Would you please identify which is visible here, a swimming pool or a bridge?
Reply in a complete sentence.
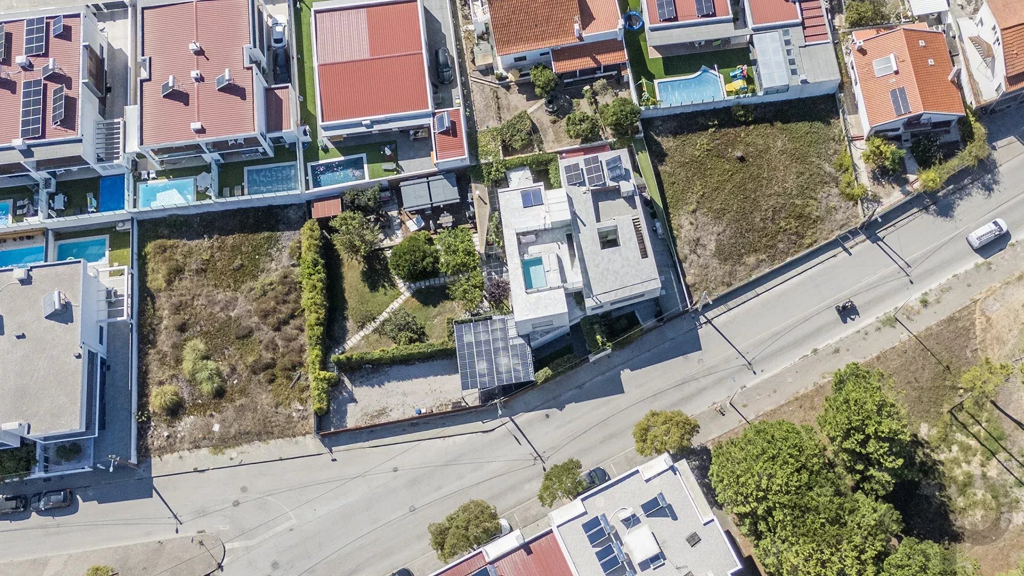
There is a swimming pool in the scene.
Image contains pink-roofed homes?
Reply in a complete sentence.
Yes, a pink-roofed home is visible in the scene.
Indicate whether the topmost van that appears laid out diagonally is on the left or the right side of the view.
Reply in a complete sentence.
It is on the right.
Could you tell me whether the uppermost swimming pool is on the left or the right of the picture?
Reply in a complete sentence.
The uppermost swimming pool is on the right side of the image.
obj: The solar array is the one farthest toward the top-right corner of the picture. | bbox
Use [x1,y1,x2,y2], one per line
[889,86,911,115]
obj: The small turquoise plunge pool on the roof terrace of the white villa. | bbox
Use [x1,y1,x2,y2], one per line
[522,256,549,290]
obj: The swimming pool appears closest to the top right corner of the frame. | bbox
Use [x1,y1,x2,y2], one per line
[654,68,727,106]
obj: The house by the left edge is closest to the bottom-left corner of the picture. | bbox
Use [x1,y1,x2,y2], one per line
[0,260,110,460]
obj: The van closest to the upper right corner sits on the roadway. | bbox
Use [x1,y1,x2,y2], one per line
[961,219,1007,256]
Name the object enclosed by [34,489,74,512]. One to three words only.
car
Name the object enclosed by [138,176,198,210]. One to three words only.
swimming pool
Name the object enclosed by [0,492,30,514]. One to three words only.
car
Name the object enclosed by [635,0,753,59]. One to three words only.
house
